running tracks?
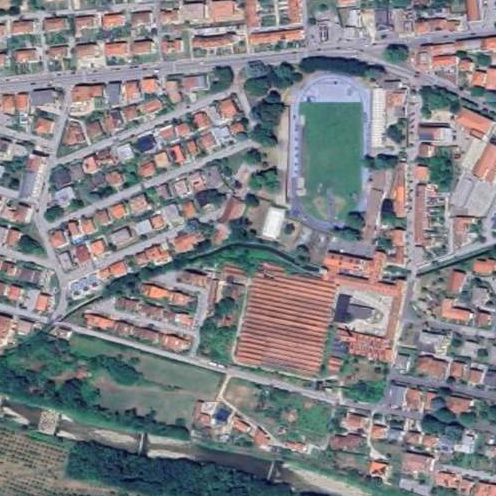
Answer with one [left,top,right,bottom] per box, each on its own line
[286,70,371,231]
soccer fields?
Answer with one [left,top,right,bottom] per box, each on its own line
[298,102,360,221]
